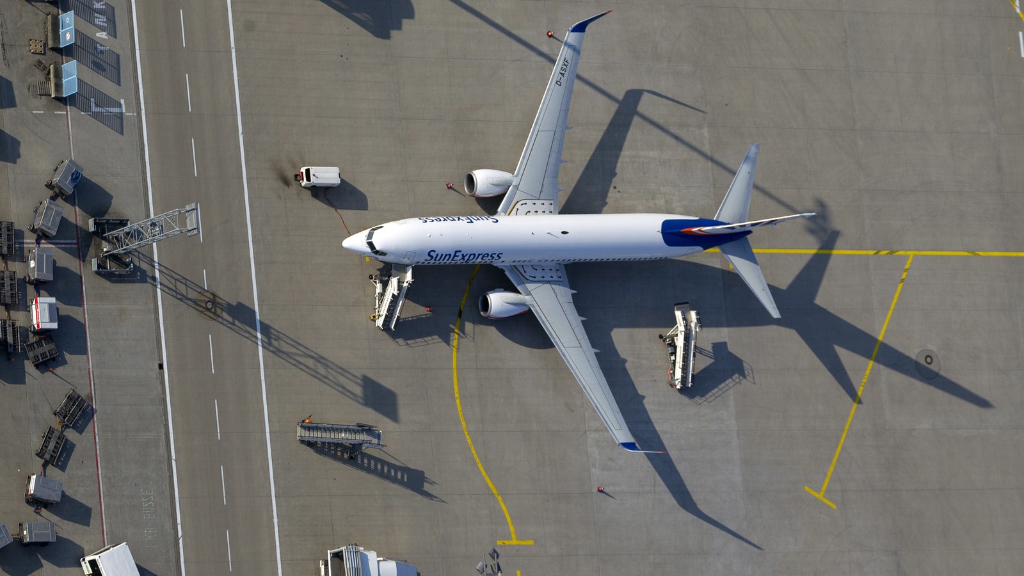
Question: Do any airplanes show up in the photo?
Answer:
Yes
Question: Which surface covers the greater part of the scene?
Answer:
paved ground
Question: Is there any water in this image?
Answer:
No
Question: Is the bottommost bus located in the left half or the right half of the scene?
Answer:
left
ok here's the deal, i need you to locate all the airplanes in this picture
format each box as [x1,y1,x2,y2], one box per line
[342,11,814,454]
